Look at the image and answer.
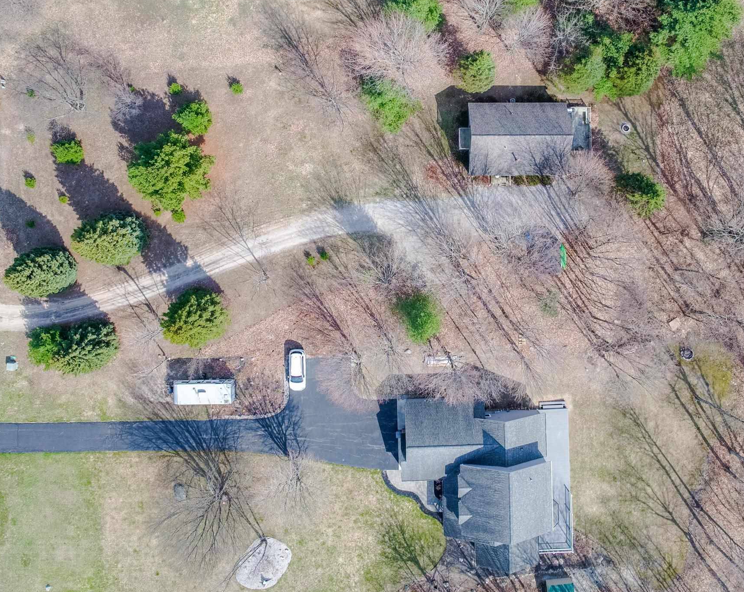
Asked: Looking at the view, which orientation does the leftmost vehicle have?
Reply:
horizontally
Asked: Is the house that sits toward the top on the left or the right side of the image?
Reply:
right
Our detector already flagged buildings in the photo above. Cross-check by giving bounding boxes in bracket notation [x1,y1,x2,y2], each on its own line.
[546,576,574,592]
[395,392,574,575]
[458,101,595,192]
